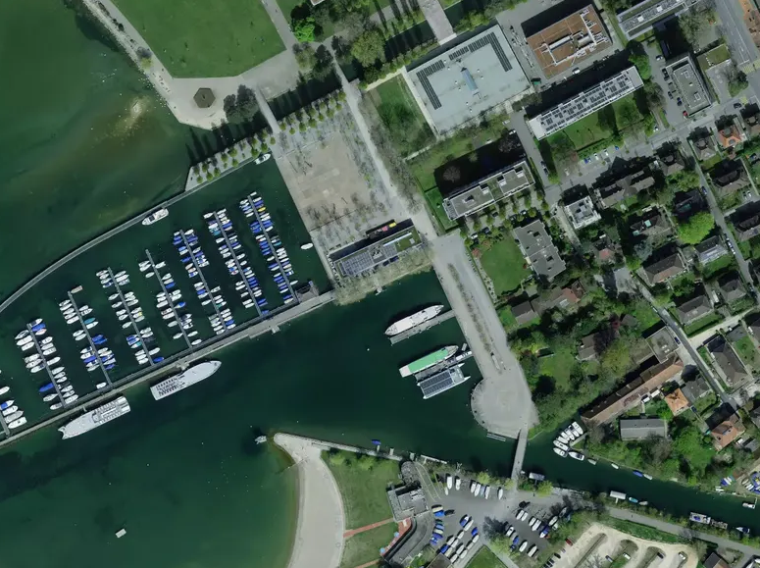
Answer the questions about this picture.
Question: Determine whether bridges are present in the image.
Yes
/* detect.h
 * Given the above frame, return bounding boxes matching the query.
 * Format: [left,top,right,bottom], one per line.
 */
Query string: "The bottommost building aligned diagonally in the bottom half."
[385,512,437,568]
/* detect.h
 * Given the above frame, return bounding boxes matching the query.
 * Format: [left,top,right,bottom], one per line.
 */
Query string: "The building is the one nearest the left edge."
[194,89,215,107]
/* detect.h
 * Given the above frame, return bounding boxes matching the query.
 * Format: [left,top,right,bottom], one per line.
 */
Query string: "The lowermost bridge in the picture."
[512,423,530,492]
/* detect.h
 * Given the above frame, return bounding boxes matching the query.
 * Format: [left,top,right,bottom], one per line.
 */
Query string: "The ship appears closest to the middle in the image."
[385,306,444,333]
